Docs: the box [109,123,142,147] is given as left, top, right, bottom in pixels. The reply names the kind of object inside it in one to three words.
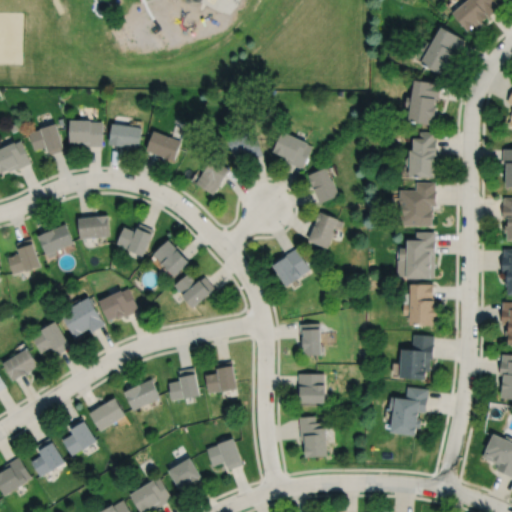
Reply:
house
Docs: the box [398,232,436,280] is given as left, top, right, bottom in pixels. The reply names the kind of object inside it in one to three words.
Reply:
house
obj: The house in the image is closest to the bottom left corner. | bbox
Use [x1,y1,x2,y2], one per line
[0,458,32,496]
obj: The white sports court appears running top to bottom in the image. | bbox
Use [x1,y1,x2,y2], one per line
[0,12,24,66]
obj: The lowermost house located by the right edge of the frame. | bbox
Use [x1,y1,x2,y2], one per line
[482,435,512,476]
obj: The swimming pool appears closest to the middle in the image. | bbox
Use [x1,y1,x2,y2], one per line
[142,271,157,289]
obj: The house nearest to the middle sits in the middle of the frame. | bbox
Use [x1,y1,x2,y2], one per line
[272,250,311,286]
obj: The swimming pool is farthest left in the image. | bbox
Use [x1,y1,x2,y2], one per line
[58,254,76,272]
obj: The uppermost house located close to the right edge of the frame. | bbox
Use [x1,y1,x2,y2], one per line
[452,0,500,31]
